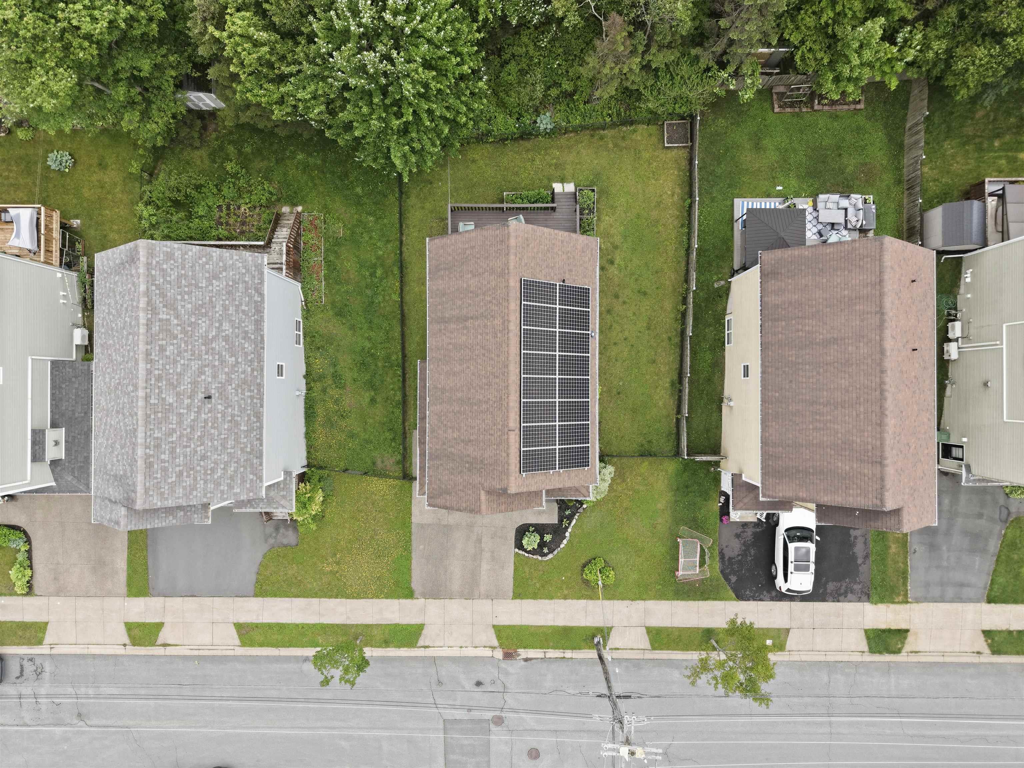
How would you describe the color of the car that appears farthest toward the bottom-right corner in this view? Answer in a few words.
white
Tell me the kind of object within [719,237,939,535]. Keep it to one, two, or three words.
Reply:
house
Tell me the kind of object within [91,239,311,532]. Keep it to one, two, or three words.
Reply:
house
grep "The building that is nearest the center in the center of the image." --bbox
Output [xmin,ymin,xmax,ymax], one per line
[416,223,601,515]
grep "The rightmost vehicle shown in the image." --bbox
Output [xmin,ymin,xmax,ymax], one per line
[771,505,820,596]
